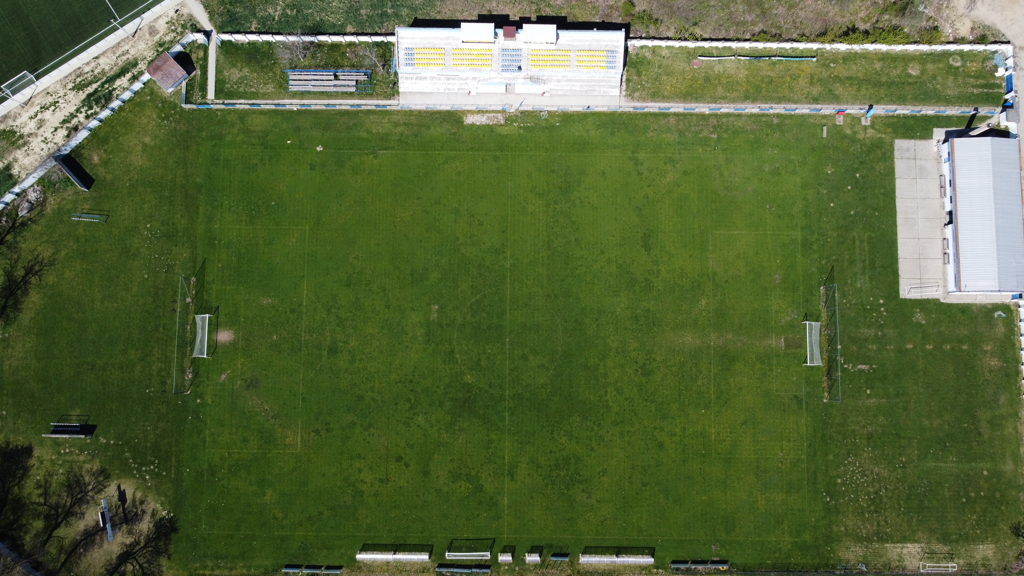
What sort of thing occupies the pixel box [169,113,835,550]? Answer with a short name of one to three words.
soccer field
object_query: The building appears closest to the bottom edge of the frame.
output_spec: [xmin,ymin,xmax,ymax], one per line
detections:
[940,135,1024,293]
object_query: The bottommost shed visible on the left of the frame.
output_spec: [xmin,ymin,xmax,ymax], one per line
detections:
[146,52,190,94]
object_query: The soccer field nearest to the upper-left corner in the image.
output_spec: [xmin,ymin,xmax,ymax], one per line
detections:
[0,0,159,98]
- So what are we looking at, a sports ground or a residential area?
sports ground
